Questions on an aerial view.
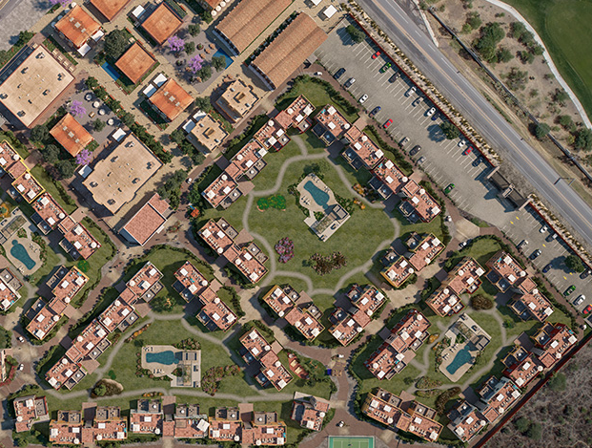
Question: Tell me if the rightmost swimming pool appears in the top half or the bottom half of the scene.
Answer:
bottom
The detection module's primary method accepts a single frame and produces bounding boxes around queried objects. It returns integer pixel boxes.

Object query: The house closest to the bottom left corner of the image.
[13,392,49,431]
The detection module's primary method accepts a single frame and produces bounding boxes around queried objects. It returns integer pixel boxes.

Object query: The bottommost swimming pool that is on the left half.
[140,340,201,389]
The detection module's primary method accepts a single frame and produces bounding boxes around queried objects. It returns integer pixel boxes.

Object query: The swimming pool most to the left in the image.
[0,208,45,277]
